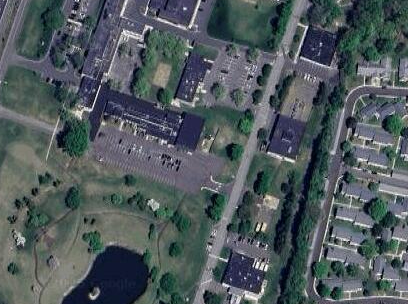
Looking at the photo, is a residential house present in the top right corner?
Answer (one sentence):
Yes, I can see a residential house in the top right corner.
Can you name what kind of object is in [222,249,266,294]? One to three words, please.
building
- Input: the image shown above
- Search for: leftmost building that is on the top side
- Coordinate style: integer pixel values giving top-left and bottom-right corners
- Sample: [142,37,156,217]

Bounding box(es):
[79,0,130,110]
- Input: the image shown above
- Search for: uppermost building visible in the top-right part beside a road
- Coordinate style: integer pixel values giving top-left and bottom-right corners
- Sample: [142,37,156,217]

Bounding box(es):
[301,26,337,66]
